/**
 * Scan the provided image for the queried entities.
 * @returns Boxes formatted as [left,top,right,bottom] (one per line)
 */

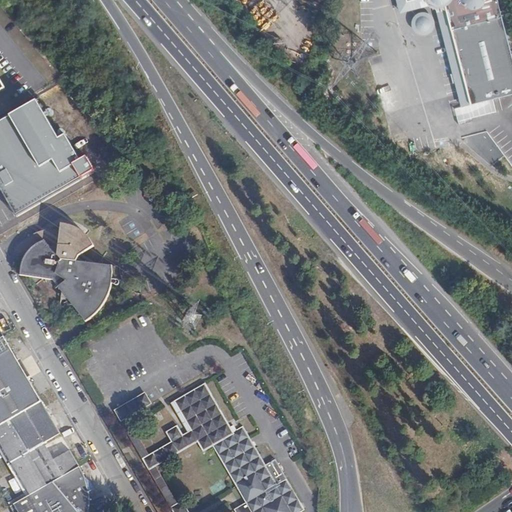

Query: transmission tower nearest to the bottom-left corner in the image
[180,310,202,332]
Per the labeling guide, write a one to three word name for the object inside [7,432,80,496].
building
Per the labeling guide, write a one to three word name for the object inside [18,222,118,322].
building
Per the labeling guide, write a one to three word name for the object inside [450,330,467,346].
vehicle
